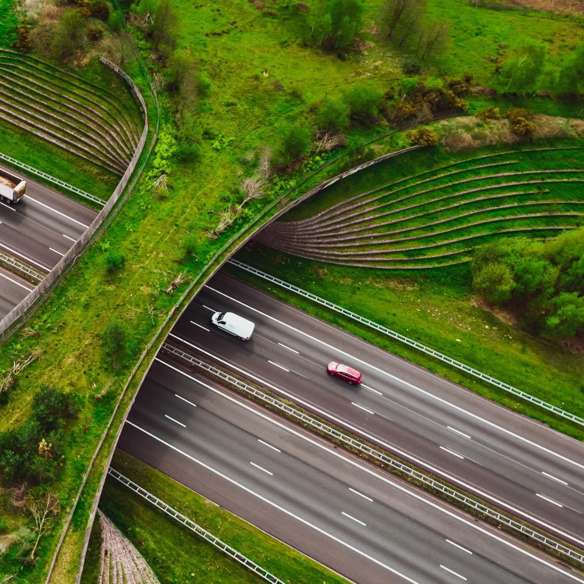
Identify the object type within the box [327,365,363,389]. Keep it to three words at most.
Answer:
car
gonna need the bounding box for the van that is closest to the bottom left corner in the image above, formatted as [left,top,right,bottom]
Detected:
[215,316,260,344]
